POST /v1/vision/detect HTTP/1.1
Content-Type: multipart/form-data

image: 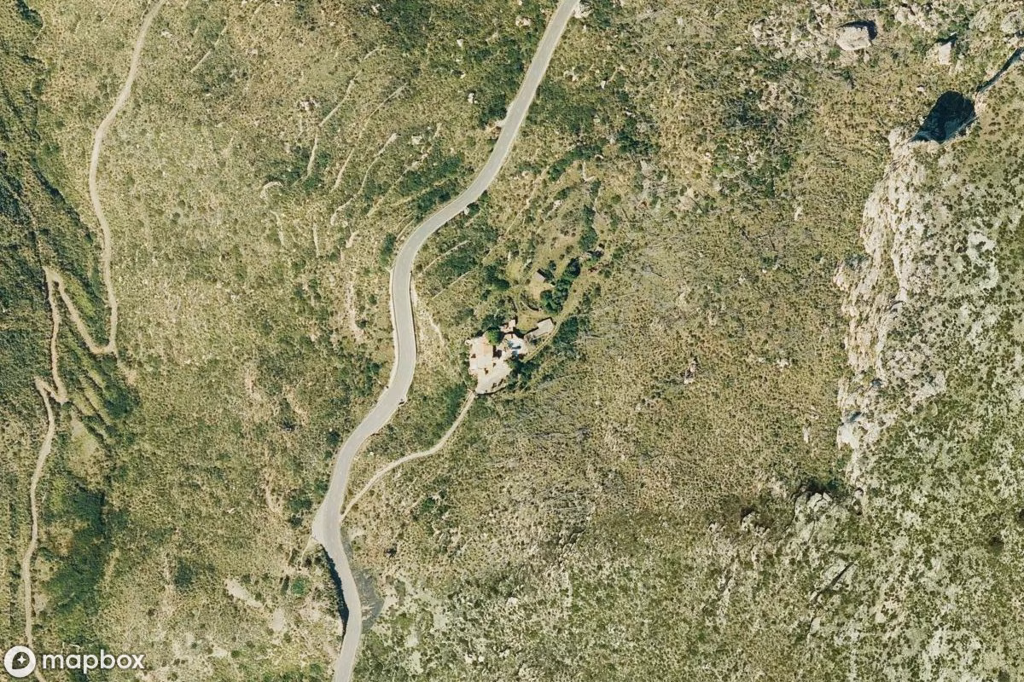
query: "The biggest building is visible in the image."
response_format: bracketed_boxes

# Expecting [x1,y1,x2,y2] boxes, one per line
[469,334,494,377]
